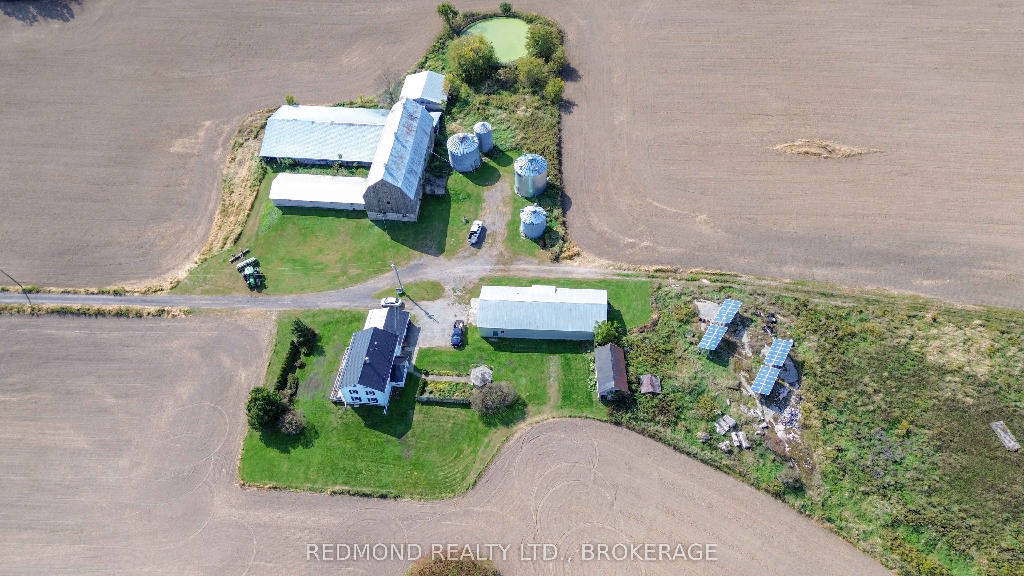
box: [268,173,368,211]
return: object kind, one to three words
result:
shed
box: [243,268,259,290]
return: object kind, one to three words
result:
work vehicle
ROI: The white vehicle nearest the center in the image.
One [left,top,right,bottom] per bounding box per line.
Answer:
[468,221,482,243]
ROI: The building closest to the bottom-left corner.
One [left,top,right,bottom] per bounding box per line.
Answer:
[332,306,412,415]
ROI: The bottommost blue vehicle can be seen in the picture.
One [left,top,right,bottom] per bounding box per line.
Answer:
[451,321,464,347]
